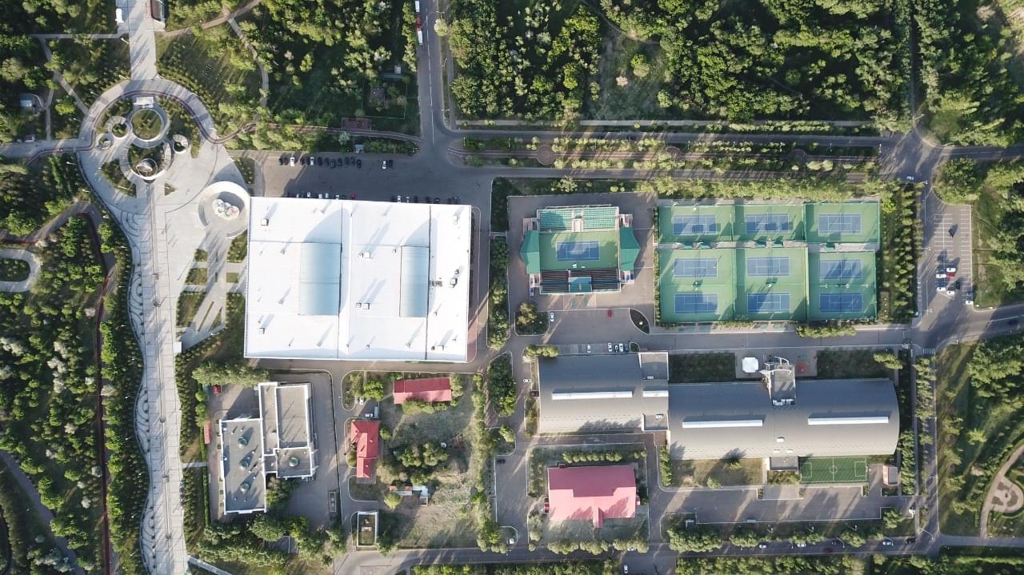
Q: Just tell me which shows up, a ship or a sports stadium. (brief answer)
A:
sports stadium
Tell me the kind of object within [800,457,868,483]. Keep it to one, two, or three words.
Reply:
soccer field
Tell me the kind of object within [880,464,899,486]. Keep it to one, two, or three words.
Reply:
building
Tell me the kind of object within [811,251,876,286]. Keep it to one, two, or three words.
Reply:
tennis court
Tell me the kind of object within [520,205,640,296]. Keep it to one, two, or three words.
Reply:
stadium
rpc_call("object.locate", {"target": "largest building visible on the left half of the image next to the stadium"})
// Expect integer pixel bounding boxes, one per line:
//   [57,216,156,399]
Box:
[245,196,472,363]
